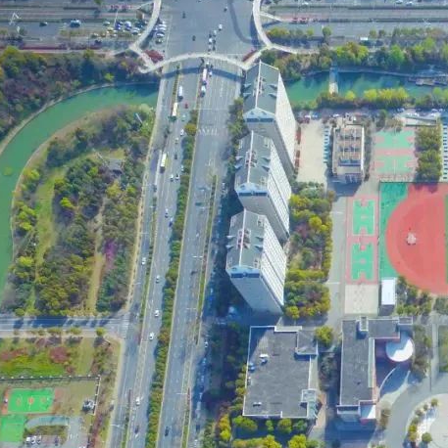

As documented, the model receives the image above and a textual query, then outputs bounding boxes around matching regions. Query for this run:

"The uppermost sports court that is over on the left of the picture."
[3,388,59,413]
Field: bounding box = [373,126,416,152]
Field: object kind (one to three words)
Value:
basketball court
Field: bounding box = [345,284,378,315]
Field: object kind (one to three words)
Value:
sports court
